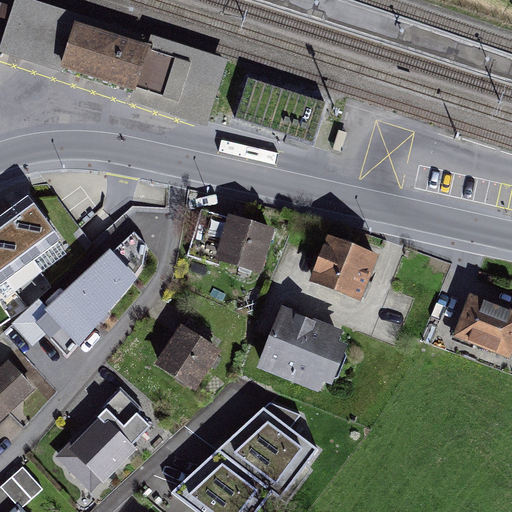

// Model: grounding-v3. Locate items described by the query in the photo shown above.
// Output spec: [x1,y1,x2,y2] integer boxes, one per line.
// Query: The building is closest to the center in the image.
[216,213,275,272]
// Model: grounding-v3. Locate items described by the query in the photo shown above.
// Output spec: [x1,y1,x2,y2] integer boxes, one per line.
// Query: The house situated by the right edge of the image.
[452,292,512,360]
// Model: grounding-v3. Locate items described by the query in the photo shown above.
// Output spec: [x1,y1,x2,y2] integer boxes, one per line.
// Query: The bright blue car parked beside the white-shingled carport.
[10,331,30,354]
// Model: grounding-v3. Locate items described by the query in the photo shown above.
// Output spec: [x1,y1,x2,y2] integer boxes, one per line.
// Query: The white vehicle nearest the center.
[192,194,219,208]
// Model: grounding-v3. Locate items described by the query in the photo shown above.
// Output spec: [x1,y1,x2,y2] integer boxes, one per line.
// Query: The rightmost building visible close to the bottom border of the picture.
[171,408,317,512]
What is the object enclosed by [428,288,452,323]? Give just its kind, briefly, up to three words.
truck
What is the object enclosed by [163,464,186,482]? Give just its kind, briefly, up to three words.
car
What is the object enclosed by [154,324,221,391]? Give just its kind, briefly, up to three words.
house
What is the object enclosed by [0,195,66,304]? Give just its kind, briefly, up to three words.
building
